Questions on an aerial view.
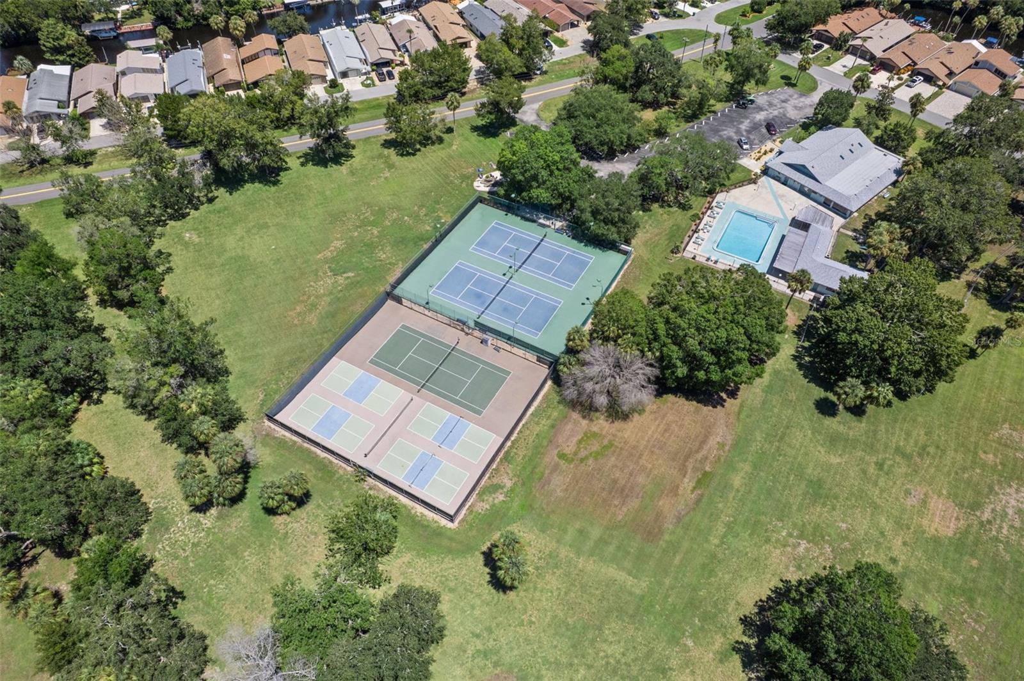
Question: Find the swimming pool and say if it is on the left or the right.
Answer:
right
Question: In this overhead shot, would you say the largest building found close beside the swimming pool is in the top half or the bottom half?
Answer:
top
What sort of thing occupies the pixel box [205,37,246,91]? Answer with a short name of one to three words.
house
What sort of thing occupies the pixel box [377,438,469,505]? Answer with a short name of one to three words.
sports court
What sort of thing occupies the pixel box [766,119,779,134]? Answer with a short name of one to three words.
vehicle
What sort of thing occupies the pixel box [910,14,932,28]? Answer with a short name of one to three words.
boat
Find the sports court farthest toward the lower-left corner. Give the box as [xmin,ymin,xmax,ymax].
[288,393,375,453]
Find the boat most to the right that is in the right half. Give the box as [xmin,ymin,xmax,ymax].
[981,32,1001,46]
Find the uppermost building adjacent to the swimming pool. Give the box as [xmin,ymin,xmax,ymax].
[766,127,907,220]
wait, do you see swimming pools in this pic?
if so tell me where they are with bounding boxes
[713,207,781,266]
